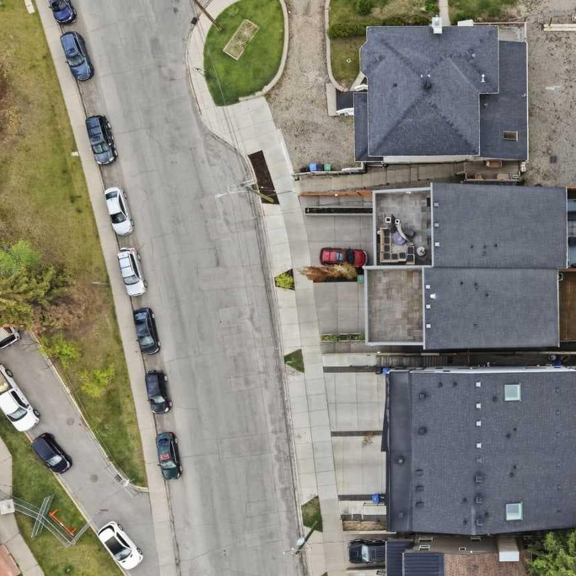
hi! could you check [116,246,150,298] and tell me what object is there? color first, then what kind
white car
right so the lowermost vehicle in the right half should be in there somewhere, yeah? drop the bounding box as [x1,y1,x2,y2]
[348,540,385,568]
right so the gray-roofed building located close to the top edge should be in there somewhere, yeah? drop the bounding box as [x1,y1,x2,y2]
[354,8,528,163]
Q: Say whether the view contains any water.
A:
No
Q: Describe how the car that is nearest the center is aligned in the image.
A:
horizontally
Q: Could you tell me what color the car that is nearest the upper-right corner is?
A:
red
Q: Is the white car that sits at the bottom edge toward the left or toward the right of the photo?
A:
left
